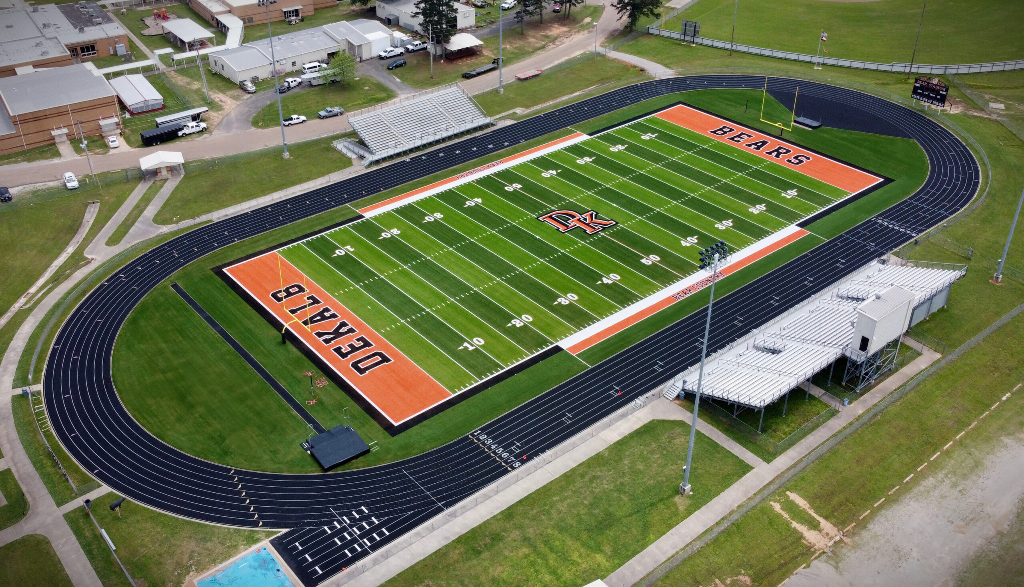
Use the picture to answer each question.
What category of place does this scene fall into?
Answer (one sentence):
This looks like a sports ground.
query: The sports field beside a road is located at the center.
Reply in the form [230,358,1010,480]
[211,101,896,437]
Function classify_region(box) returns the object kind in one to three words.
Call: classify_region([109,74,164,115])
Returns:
shed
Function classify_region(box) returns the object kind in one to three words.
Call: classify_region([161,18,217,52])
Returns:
building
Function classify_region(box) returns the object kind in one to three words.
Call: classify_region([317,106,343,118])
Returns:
vehicle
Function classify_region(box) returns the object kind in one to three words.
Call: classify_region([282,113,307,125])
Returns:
vehicle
